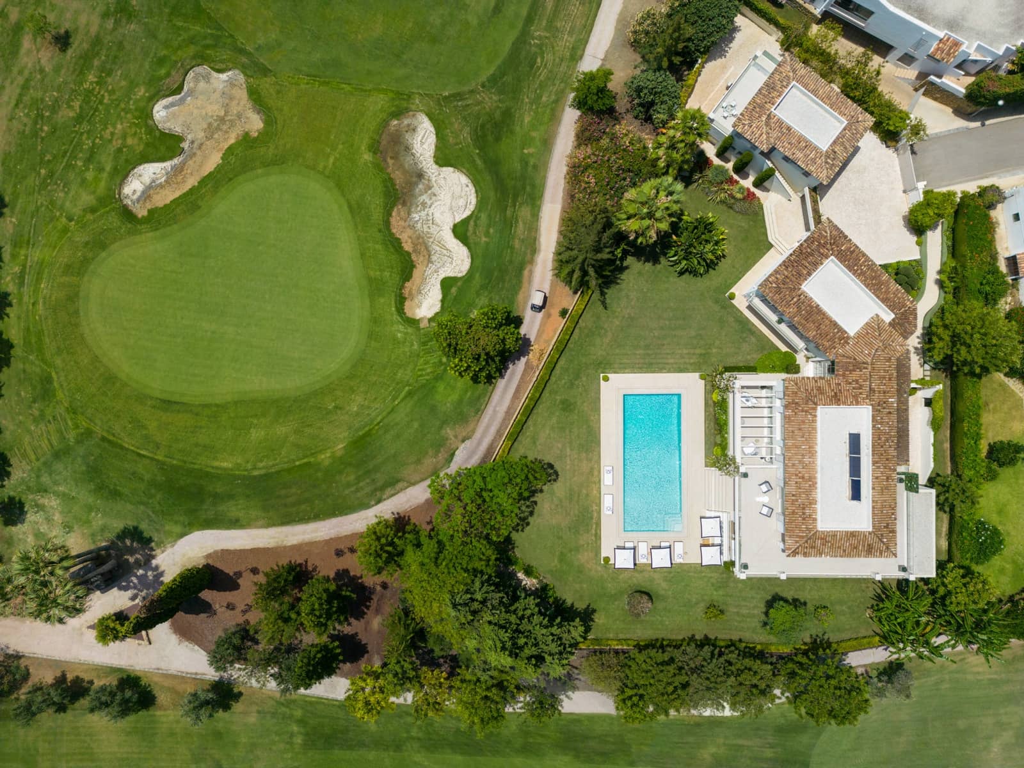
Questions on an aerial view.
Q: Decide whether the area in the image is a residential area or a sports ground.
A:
residential area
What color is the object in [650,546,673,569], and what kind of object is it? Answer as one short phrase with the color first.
white umbrella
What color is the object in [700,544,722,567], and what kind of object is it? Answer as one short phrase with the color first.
white umbrella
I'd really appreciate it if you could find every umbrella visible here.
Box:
[613,547,635,569]
[650,546,673,569]
[700,516,722,539]
[700,544,722,567]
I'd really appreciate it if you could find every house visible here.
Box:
[729,216,941,581]
[799,0,1024,87]
[698,49,876,192]
[1002,191,1024,301]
